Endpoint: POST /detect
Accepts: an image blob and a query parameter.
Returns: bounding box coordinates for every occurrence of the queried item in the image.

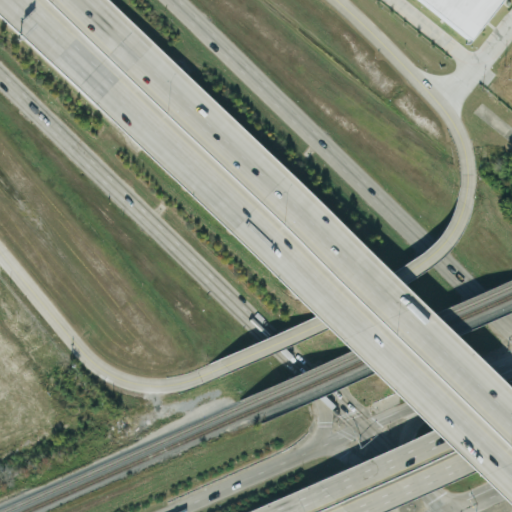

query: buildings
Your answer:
[416,0,509,47]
